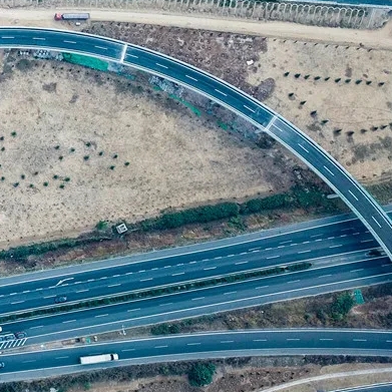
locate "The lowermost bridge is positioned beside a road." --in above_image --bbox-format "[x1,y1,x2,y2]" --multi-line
[0,26,392,262]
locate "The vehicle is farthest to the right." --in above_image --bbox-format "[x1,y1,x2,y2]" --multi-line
[79,351,120,364]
